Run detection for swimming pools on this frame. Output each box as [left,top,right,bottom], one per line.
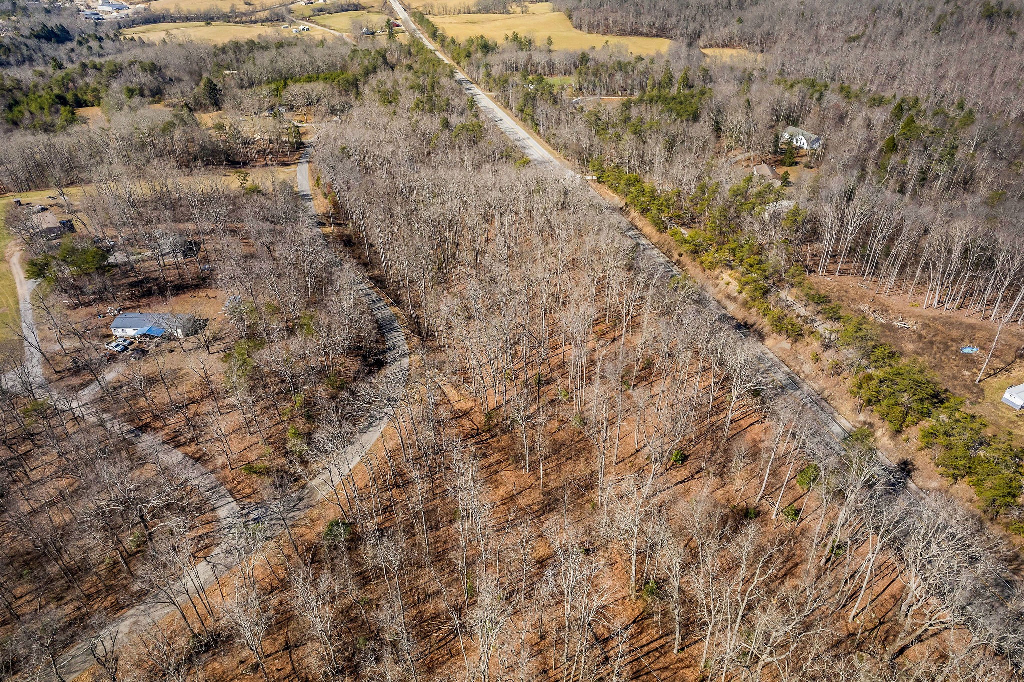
[960,343,983,355]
